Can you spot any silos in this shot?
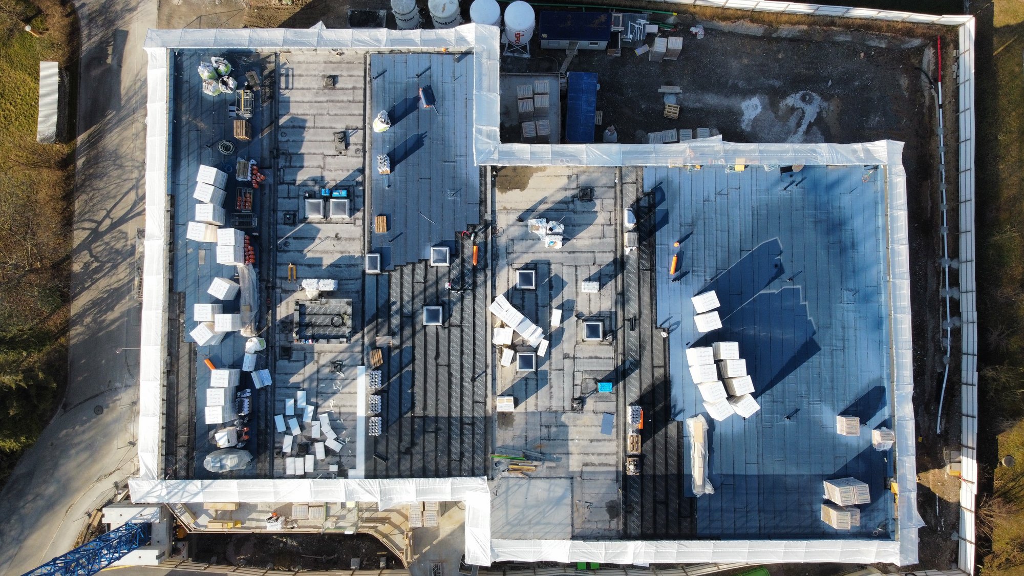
Yes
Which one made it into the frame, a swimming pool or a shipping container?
shipping container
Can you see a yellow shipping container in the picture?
No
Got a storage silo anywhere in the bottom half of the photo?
No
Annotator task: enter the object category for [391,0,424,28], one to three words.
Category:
silo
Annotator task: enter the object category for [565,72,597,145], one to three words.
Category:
shipping container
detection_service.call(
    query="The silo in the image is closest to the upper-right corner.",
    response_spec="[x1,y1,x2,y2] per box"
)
[499,2,537,58]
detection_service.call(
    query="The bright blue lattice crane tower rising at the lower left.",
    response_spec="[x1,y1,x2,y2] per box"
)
[18,521,150,576]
